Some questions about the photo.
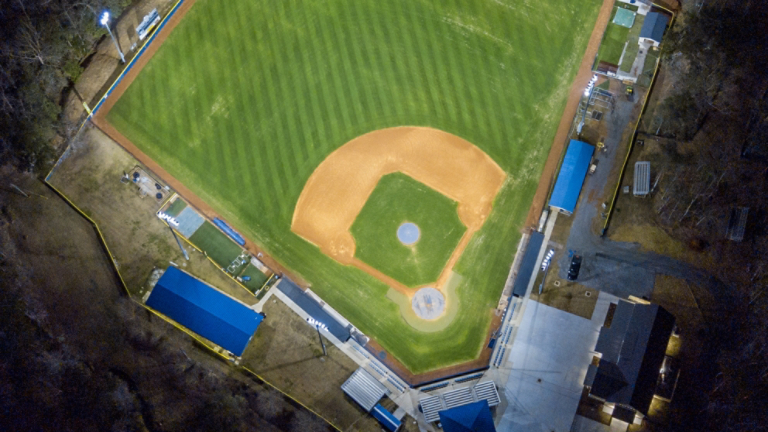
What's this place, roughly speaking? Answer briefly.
sports ground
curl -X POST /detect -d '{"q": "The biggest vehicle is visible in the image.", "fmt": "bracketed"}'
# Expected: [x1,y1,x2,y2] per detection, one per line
[568,256,581,280]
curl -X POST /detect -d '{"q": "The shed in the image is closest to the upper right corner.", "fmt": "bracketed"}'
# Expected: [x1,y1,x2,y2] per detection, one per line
[639,12,668,47]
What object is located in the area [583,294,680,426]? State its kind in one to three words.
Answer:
building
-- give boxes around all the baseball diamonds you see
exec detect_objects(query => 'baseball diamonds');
[92,0,614,386]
